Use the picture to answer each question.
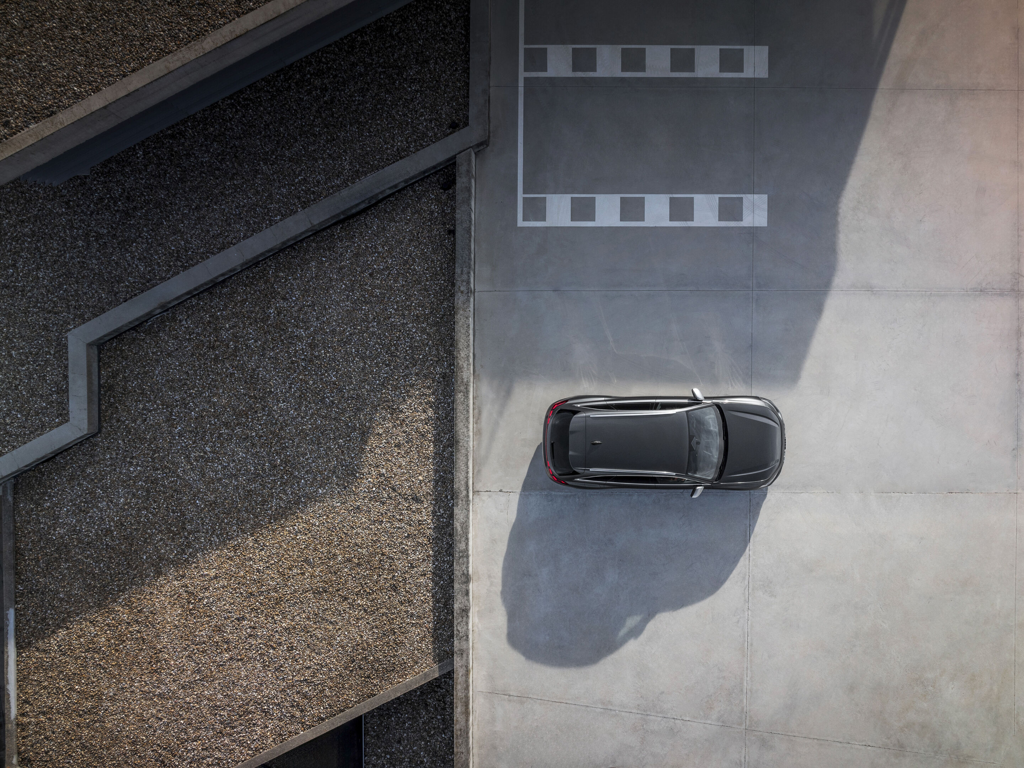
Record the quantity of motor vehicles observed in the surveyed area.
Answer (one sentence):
The photo contains exactly 1 motor vehicle.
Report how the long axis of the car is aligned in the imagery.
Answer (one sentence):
The car is oriented from left to right.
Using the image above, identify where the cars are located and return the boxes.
[542,388,787,497]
